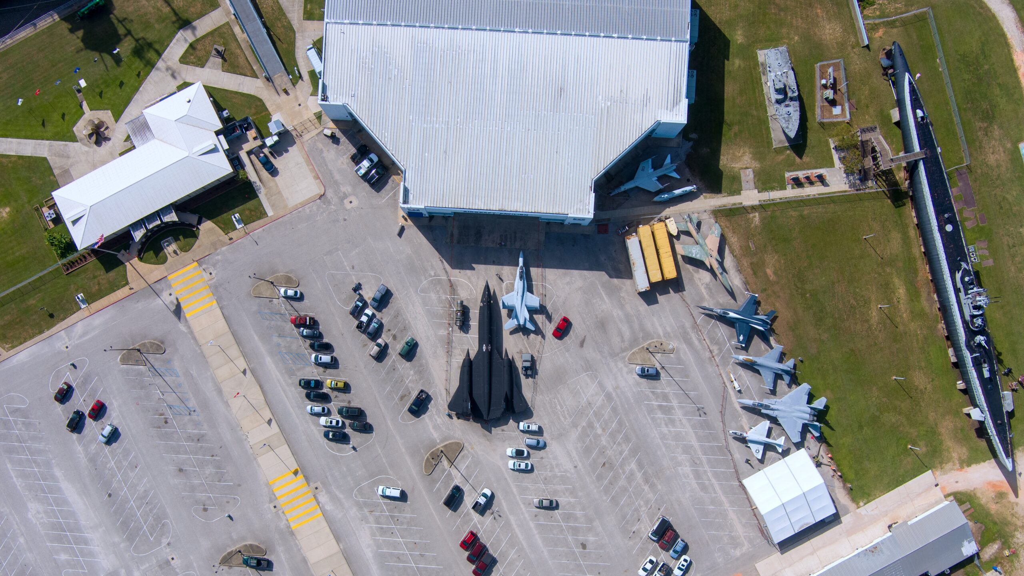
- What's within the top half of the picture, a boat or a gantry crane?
boat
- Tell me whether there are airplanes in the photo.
Yes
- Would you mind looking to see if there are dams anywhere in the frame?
No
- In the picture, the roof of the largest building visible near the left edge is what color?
white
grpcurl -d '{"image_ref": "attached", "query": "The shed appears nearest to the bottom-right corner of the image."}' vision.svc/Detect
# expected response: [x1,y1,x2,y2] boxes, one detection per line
[801,498,979,576]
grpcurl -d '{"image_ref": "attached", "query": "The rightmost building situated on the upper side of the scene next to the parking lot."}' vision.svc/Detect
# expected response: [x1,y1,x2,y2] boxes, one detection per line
[318,0,693,227]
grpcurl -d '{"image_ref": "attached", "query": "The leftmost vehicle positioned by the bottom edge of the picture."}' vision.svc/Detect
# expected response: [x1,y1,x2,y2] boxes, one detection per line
[243,556,272,569]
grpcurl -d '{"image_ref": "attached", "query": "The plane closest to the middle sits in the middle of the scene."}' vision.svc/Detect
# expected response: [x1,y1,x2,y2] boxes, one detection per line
[501,250,540,330]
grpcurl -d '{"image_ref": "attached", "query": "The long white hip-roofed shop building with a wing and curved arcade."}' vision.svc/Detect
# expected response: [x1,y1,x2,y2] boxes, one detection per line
[51,81,235,259]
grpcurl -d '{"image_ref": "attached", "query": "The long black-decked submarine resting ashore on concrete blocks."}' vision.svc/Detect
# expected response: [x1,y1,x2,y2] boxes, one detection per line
[880,39,1024,472]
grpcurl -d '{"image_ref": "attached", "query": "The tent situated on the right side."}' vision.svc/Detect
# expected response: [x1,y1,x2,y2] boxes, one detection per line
[737,446,837,544]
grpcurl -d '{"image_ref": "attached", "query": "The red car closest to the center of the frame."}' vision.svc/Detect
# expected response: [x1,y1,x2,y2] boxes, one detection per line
[553,316,570,338]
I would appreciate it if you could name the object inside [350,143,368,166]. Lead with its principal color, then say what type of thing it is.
black car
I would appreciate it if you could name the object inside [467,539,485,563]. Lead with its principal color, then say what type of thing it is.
red car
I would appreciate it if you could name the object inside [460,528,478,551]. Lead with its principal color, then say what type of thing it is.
red car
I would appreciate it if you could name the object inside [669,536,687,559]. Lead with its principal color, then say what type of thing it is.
blue car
